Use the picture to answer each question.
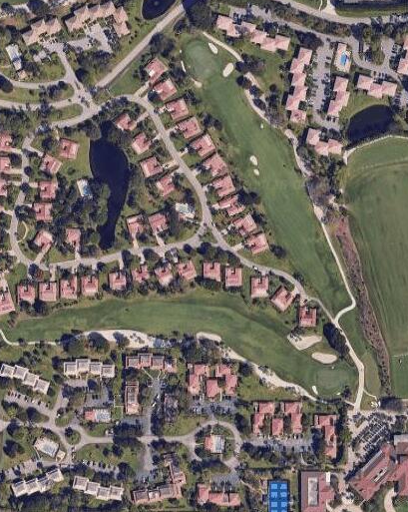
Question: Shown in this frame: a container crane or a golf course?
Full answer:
Looking from above, you can make out a golf course.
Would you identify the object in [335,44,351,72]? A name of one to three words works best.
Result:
swimming pool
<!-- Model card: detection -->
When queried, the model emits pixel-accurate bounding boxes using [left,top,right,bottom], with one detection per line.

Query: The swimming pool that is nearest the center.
[176,202,193,219]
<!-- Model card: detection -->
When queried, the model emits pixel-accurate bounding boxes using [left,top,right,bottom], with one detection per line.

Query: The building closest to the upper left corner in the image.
[20,18,62,48]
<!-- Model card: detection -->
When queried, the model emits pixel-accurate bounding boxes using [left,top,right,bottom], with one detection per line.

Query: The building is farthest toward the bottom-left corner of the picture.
[11,468,64,497]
